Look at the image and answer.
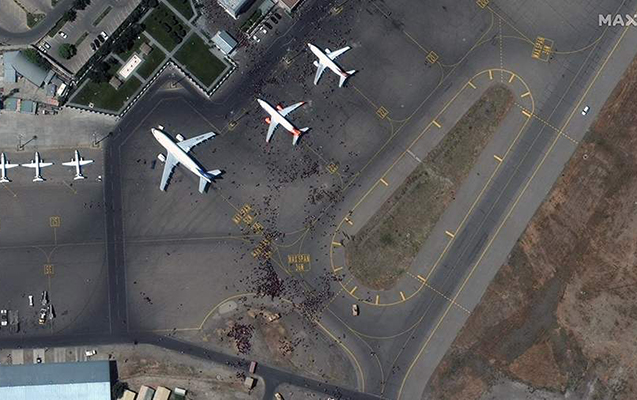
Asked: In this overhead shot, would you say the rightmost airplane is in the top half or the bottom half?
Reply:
top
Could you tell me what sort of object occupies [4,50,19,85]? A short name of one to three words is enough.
shed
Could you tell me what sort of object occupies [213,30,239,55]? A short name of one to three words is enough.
building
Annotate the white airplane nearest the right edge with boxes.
[307,44,358,86]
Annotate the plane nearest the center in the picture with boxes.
[258,100,309,143]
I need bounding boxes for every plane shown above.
[151,128,222,192]
[307,44,358,86]
[258,100,309,143]
[0,154,19,182]
[21,152,52,180]
[62,151,93,179]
